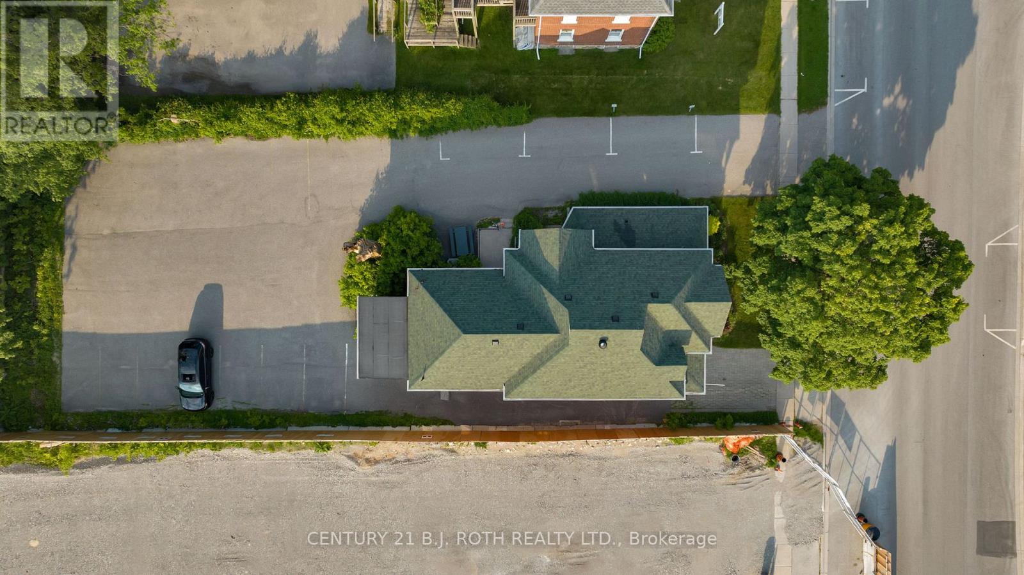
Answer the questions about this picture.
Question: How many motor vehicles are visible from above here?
1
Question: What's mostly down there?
paved ground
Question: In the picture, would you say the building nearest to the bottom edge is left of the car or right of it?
on the right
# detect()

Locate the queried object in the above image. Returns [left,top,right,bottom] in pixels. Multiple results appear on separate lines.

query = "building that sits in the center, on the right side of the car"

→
[356,203,734,402]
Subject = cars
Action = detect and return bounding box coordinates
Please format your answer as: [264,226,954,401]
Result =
[175,337,214,410]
